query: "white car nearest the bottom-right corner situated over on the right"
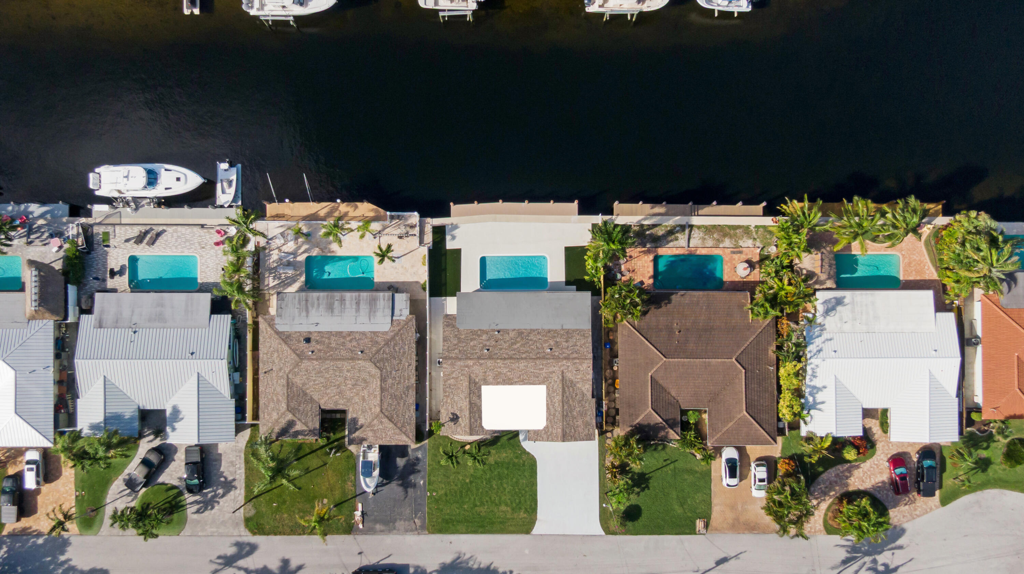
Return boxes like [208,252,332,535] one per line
[749,460,769,498]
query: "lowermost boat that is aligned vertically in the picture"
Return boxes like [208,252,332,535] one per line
[360,445,379,492]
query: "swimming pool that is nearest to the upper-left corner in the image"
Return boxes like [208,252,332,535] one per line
[0,253,24,292]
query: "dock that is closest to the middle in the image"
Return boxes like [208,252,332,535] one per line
[451,200,578,215]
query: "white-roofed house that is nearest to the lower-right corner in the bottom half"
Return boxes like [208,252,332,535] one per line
[796,290,962,443]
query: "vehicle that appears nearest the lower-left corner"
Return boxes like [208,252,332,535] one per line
[0,473,23,524]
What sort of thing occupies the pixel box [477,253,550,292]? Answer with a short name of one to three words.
swimming pool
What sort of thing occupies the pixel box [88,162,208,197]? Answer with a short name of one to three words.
boat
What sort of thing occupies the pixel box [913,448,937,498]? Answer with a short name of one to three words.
truck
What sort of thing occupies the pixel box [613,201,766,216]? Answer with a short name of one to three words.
pier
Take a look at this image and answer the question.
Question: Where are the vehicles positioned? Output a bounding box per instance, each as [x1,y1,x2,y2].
[23,448,48,491]
[183,445,206,494]
[913,448,937,498]
[0,473,23,524]
[352,568,398,574]
[886,455,911,496]
[719,446,741,489]
[124,444,165,494]
[749,460,769,498]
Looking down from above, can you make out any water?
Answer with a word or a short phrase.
Yes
